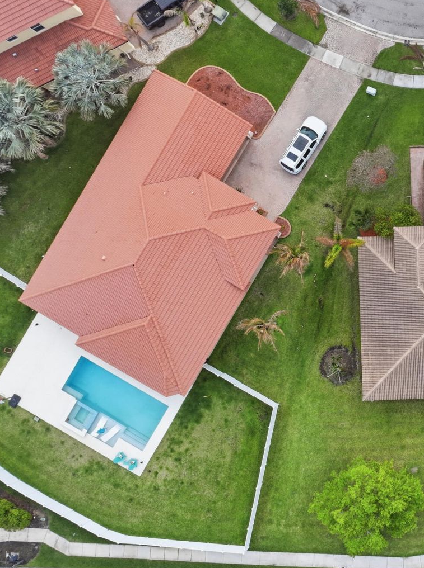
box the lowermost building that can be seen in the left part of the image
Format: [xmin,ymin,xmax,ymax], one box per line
[19,69,284,397]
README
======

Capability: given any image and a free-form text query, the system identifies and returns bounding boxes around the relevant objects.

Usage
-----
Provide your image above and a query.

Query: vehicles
[280,116,325,176]
[134,0,198,31]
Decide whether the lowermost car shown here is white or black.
white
